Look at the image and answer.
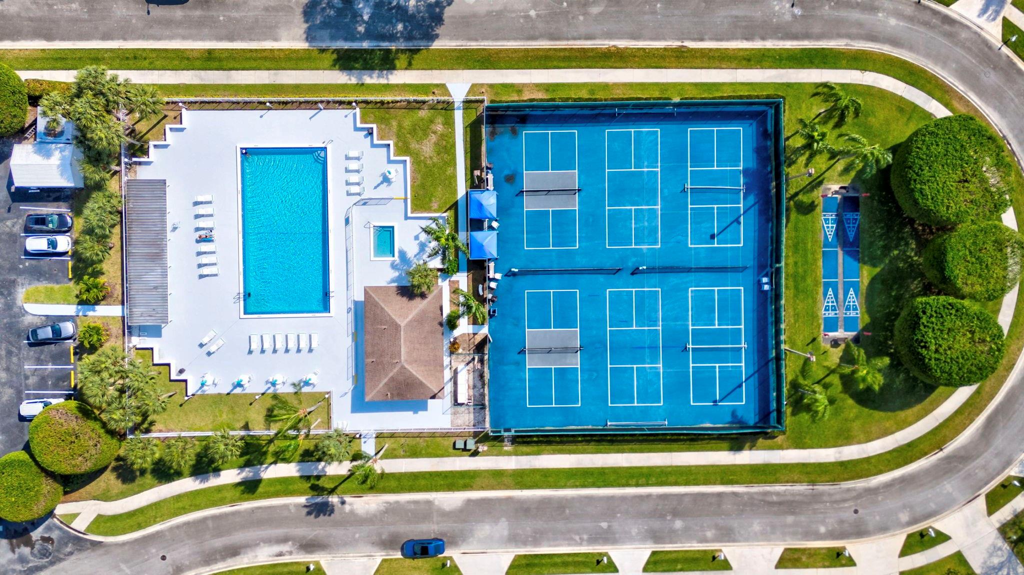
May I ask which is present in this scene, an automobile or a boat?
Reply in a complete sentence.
The one in the frame is an automobile.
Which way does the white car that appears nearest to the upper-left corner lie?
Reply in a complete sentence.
What the image shows is the white car that appears nearest to the upper-left corner lying from side to side.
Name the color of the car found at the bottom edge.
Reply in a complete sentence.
The car found at the bottom edge looks blue in the image.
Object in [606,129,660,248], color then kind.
blue sports court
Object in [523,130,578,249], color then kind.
blue sports court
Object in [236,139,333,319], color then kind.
blue swimming pool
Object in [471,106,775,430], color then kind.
blue tennis court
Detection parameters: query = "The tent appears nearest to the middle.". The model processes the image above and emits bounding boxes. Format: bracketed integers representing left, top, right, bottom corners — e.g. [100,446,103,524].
[470,230,498,260]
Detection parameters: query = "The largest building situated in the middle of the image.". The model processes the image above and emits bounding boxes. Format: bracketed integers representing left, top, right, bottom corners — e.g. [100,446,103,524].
[363,285,445,402]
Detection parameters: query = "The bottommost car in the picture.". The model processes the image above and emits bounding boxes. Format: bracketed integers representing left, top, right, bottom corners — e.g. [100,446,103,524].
[402,537,444,558]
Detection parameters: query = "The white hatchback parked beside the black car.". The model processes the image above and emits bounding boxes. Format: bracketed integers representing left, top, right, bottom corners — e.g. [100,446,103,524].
[29,234,73,254]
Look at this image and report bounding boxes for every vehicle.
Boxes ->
[32,321,78,342]
[25,398,71,417]
[402,537,444,558]
[29,234,73,254]
[28,213,75,233]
